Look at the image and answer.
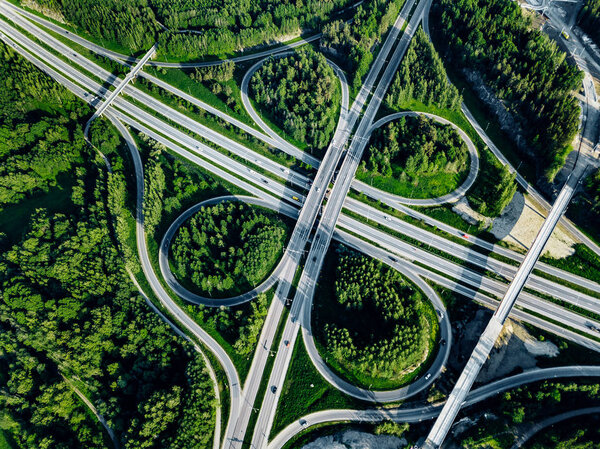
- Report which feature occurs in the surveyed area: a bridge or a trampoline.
bridge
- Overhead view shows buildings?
No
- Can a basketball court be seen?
No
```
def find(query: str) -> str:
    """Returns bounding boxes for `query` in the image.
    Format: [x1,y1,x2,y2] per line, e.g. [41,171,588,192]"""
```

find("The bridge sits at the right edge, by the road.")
[420,176,579,448]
